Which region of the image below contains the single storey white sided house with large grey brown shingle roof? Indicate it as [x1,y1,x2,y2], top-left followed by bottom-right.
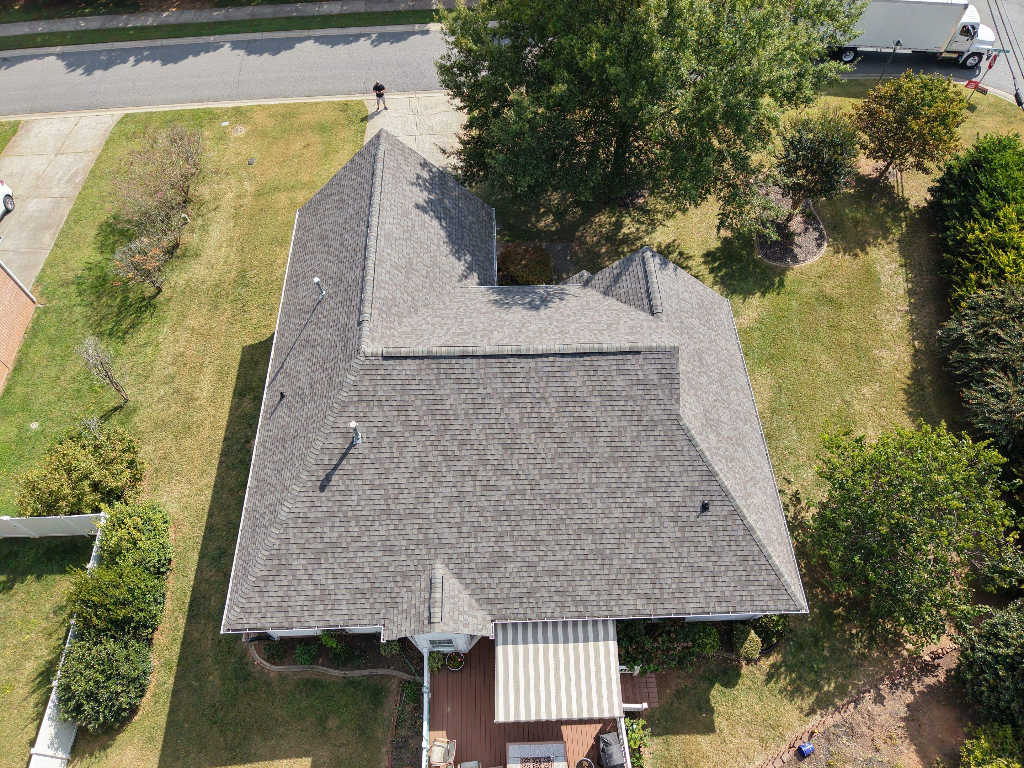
[223,130,807,657]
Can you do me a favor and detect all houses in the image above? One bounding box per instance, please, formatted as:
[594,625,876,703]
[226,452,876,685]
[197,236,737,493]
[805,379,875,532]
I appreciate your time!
[223,130,807,657]
[0,259,37,392]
